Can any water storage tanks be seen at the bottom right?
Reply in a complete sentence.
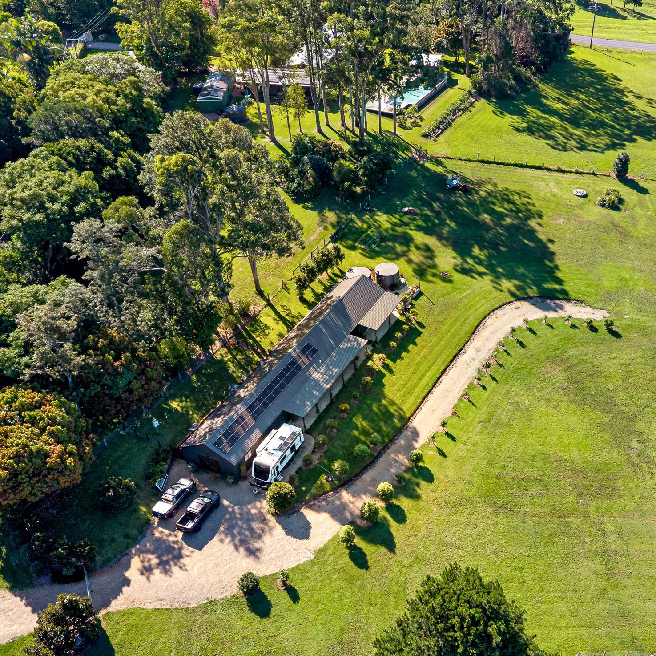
No, no water storage tank appears at the bottom right.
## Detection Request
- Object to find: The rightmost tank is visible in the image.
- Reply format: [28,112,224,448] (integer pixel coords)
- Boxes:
[375,262,400,289]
